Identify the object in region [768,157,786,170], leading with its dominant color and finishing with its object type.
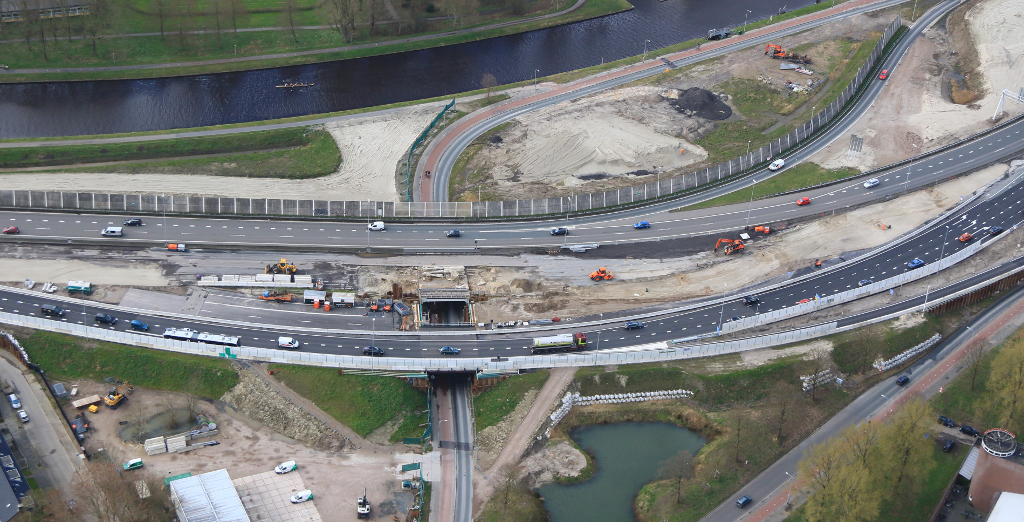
white vehicle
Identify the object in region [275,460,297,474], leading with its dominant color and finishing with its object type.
white vehicle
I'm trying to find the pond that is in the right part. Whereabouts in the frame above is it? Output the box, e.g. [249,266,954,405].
[537,421,707,522]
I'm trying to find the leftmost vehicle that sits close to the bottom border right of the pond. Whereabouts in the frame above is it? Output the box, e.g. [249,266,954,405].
[736,496,751,508]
